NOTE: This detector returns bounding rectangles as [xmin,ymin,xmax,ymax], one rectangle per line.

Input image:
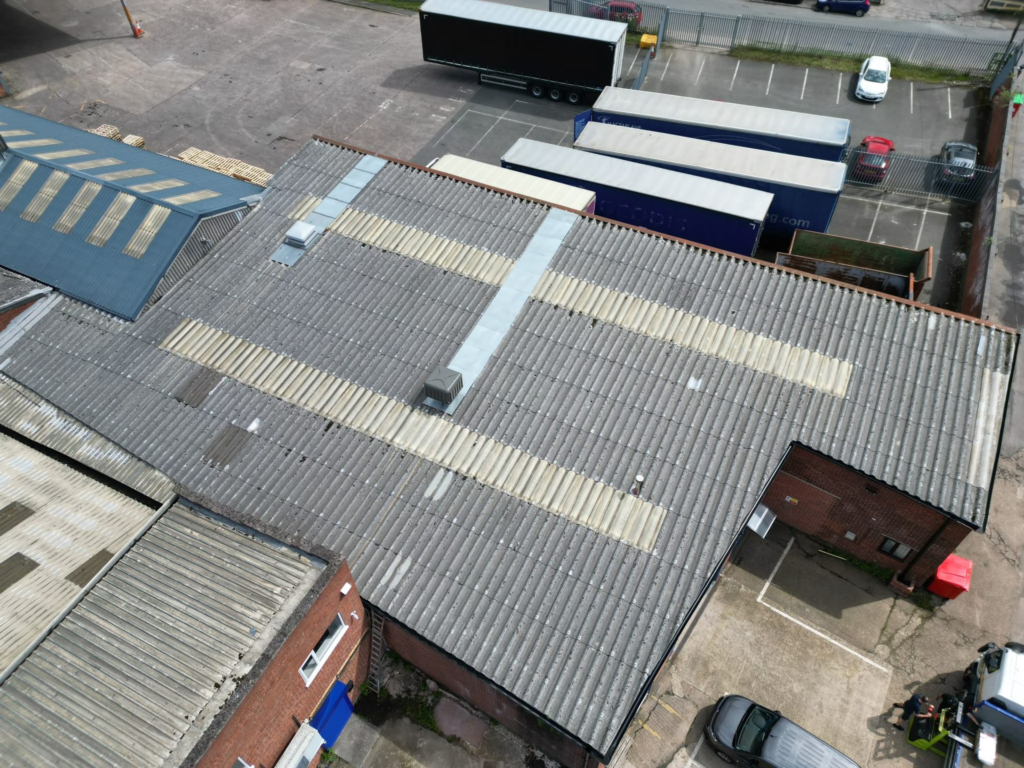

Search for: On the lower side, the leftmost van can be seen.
[694,698,840,768]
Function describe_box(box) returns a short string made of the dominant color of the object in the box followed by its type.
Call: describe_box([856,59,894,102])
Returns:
white car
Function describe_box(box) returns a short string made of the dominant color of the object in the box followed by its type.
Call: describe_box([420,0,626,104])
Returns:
black trailer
